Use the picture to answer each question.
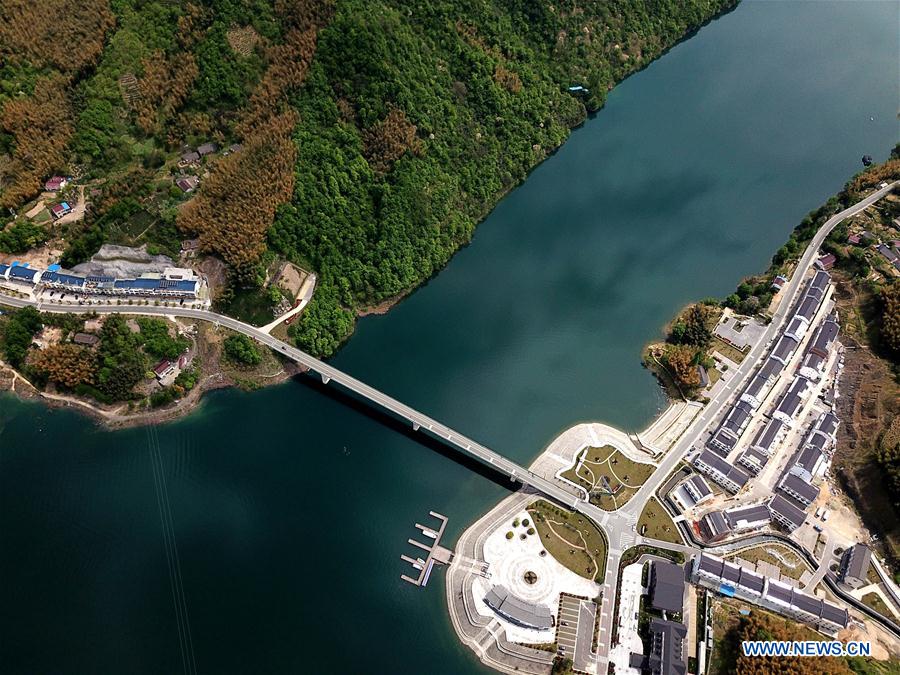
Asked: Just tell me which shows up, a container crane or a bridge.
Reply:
bridge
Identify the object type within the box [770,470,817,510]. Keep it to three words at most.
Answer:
building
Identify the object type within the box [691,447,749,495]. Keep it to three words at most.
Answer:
building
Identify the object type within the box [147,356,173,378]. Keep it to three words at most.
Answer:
house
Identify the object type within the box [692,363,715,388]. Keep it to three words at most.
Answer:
house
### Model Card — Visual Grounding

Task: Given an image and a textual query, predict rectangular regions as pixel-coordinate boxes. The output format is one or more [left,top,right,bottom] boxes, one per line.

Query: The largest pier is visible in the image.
[401,512,457,586]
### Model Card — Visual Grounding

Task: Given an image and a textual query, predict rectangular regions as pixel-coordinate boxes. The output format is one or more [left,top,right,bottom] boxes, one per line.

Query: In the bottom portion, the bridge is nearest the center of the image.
[294,351,580,513]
